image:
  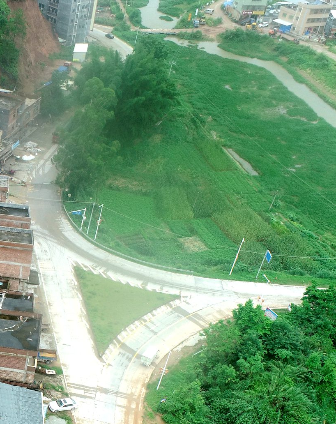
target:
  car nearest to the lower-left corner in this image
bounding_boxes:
[48,398,80,414]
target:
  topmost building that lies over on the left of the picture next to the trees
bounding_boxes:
[43,0,99,46]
